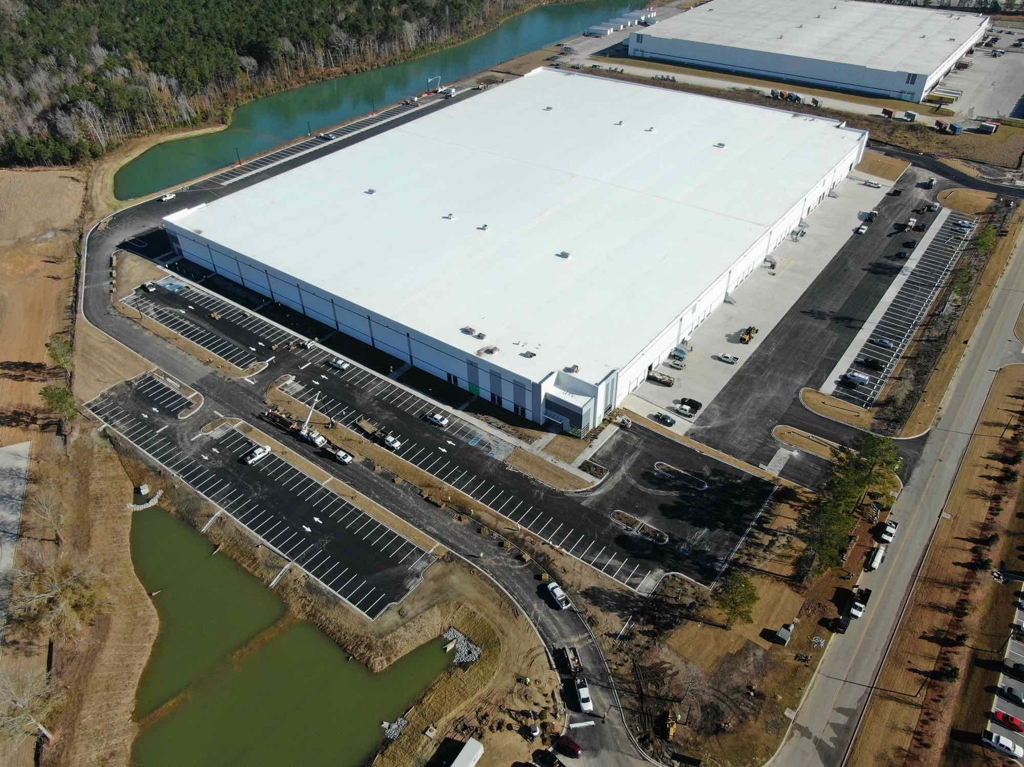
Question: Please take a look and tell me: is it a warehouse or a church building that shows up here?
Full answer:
Looking from above, you can make out a warehouse.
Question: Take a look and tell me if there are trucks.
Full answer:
Yes, there is a truck in the image.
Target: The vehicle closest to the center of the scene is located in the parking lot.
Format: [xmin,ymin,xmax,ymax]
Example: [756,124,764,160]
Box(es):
[425,410,449,424]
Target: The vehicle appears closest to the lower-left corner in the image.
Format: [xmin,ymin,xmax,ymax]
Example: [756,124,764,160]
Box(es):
[244,444,270,462]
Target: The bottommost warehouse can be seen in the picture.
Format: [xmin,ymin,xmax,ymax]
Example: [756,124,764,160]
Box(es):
[161,67,871,438]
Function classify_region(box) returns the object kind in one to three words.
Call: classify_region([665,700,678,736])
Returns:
vehicle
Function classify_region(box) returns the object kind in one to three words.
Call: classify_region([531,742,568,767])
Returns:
truck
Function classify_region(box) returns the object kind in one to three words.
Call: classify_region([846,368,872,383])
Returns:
vehicle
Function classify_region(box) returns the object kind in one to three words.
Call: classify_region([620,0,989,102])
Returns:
building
